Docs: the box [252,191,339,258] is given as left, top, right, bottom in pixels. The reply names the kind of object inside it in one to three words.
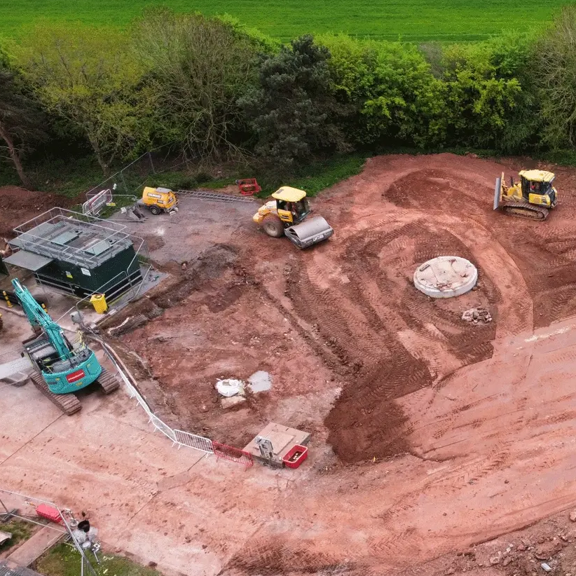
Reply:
work vehicle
